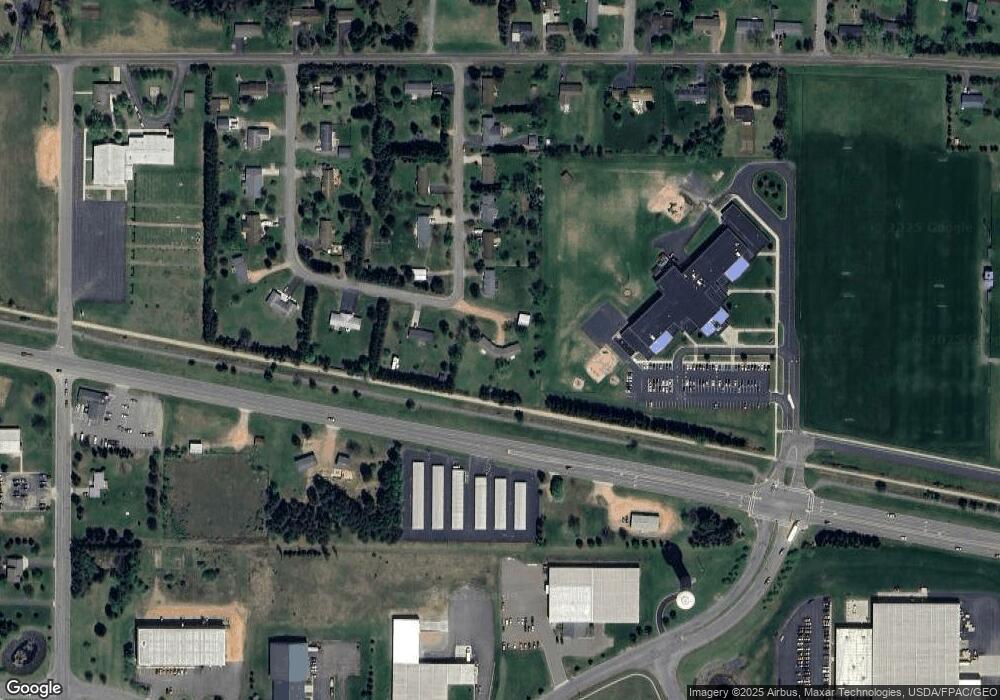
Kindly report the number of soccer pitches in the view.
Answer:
4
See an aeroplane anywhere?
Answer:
No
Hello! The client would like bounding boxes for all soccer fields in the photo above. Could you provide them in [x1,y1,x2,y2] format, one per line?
[812,148,884,273]
[812,295,884,420]
[906,306,975,432]
[906,161,975,285]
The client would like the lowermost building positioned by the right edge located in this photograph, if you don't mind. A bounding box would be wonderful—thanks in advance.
[836,599,981,700]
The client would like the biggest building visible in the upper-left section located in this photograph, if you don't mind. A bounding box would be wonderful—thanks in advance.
[94,128,174,185]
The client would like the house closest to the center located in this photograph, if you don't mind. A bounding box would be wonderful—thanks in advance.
[479,335,522,357]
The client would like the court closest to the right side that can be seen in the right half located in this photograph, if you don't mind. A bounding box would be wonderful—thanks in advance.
[652,197,711,268]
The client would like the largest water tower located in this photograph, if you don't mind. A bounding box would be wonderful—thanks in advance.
[678,573,696,610]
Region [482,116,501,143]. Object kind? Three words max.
house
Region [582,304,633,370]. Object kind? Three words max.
sports court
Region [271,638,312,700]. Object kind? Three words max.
building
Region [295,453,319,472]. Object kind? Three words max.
barn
